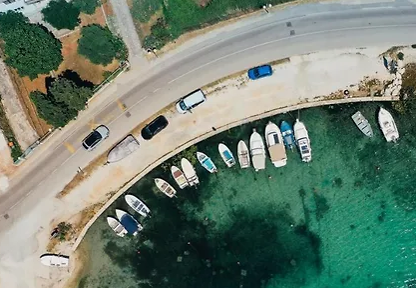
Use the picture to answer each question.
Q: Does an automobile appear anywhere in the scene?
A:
Yes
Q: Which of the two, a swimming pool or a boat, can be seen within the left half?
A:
boat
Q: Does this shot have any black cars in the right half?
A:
No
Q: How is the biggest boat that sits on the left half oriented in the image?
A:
on a diagonal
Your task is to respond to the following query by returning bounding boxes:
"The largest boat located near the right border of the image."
[380,100,400,146]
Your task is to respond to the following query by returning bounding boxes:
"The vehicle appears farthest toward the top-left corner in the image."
[81,122,112,150]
